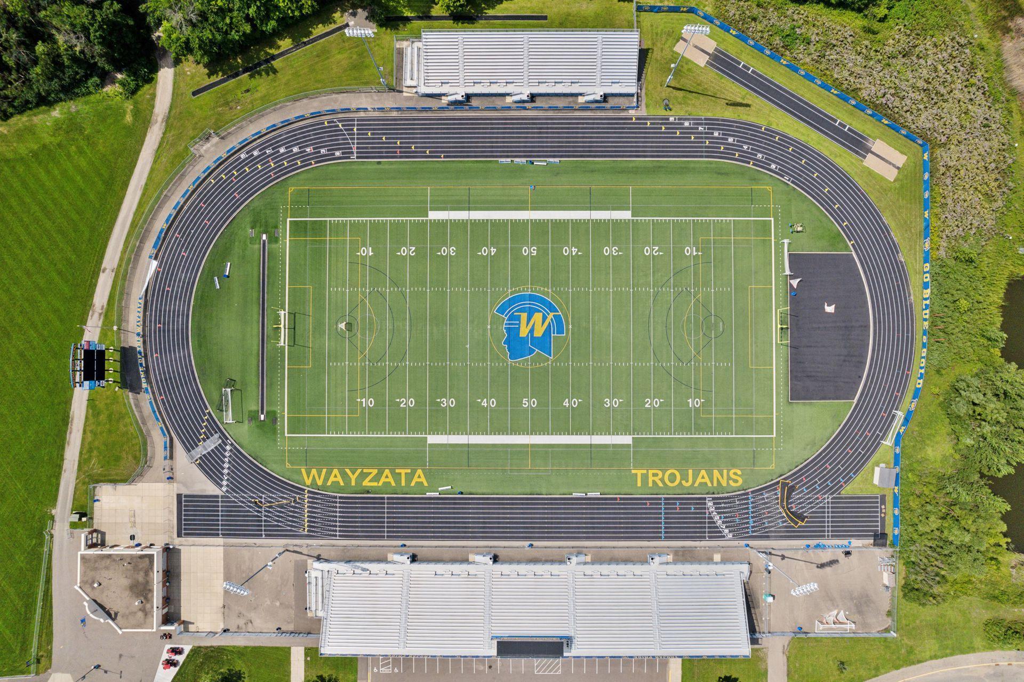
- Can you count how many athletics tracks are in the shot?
one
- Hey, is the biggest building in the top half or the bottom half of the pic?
bottom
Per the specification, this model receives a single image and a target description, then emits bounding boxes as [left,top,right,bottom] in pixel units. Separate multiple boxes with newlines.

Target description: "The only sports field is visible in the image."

[192,162,869,494]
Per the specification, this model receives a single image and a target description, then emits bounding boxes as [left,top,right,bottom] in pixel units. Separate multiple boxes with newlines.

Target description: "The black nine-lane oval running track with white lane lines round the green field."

[145,116,917,542]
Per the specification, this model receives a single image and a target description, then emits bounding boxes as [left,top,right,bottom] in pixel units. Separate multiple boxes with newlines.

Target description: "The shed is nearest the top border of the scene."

[872,467,896,488]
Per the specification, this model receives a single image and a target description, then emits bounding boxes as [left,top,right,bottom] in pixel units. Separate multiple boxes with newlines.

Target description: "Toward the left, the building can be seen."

[75,547,168,634]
